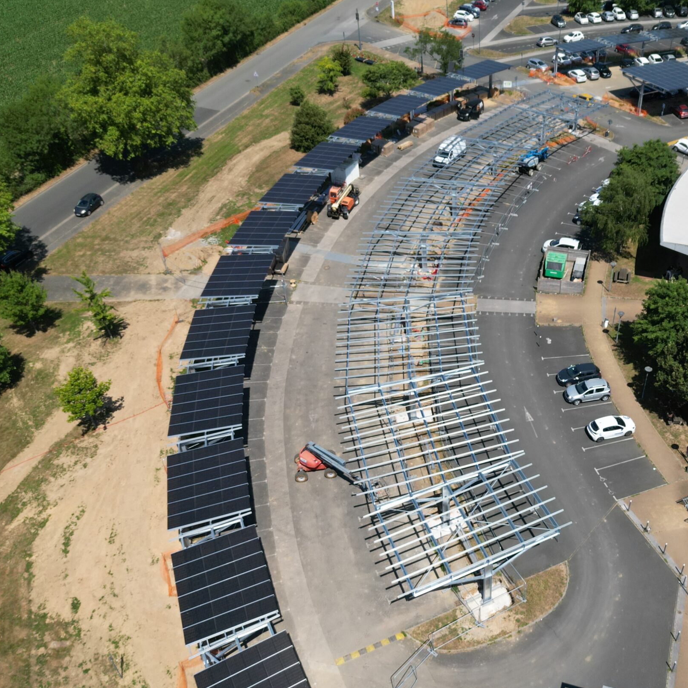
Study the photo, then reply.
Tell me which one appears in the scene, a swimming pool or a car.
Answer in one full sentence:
The one in the frame is a car.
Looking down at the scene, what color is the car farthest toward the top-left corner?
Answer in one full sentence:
The car farthest toward the top-left corner is black.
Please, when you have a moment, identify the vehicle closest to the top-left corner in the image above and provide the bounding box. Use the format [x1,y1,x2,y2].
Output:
[71,193,105,214]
